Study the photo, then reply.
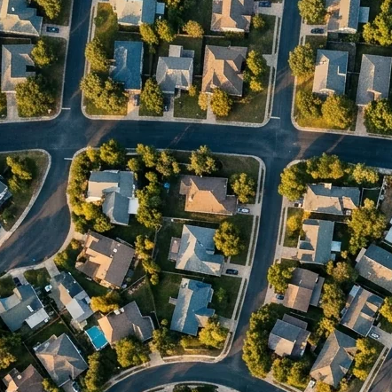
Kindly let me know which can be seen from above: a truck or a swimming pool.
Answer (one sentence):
Visible in the photo is a swimming pool.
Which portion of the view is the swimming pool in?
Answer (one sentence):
Look in the bottom left portion of the view to spot the swimming pool.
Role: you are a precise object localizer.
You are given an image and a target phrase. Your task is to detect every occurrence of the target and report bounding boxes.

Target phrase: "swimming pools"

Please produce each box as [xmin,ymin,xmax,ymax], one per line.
[85,324,111,353]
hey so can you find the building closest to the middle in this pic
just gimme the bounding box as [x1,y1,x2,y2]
[176,174,237,217]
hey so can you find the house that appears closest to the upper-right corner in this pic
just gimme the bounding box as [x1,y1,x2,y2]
[324,0,369,36]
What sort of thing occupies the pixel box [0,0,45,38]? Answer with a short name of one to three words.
house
